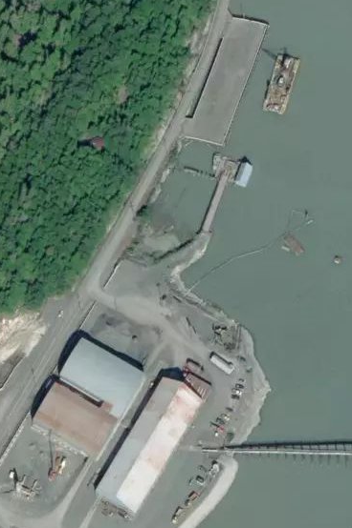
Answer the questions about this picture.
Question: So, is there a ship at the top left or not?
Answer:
No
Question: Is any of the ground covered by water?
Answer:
Yes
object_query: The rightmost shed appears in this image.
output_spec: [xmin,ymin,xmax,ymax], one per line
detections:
[234,162,253,189]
